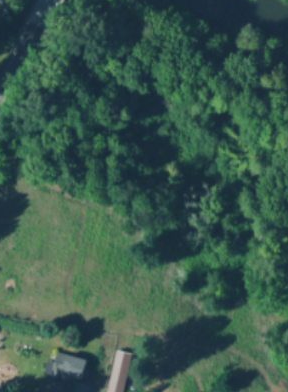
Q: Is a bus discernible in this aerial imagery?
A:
No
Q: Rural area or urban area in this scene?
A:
rural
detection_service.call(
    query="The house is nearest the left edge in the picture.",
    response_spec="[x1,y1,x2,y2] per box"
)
[49,353,88,378]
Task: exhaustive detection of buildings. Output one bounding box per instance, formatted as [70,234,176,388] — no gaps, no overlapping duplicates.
[108,350,132,392]
[49,353,88,378]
